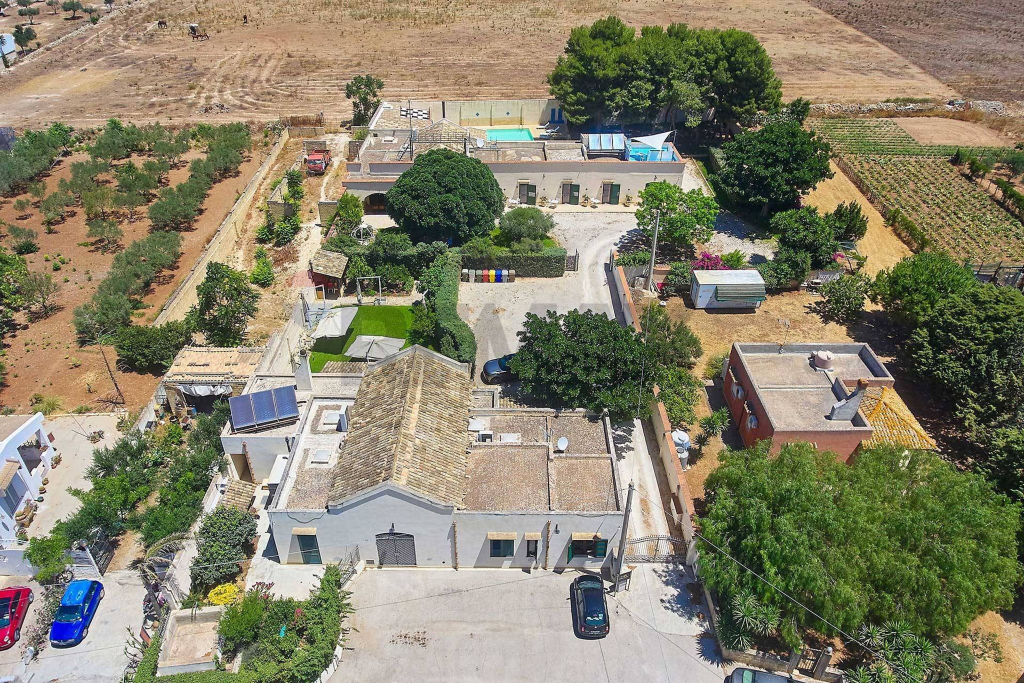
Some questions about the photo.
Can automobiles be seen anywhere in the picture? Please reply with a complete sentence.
Yes, the photo shows an automobile.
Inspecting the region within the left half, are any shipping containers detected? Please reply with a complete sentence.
No, no shipping container appears within the left half.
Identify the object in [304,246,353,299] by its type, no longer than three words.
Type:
shed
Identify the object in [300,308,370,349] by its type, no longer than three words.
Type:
umbrella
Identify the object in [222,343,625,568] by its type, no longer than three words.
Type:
house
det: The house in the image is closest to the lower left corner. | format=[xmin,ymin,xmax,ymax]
[0,408,62,553]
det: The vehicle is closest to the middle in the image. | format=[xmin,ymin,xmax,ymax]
[487,355,515,384]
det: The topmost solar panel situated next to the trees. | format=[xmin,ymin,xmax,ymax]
[583,130,632,163]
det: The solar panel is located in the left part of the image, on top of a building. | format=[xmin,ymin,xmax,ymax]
[229,385,302,434]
